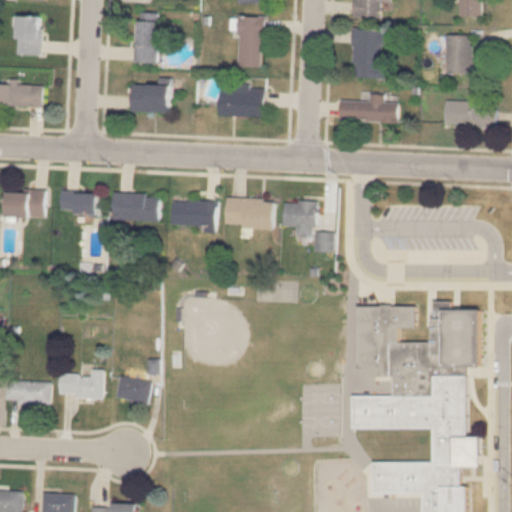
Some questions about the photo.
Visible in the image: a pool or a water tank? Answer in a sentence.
The image shows a pool.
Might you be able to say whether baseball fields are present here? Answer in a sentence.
Yes, there's a baseball field down there.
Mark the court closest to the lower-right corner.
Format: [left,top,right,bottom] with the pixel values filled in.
[299,384,342,448]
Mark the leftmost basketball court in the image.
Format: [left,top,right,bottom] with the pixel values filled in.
[257,281,298,303]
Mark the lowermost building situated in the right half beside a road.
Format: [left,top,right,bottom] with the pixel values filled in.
[352,300,482,512]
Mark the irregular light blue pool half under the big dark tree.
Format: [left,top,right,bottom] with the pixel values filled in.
[166,44,194,66]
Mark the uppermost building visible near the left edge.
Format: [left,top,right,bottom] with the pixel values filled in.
[13,16,44,56]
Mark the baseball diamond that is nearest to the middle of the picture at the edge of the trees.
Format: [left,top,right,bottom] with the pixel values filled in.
[182,296,250,366]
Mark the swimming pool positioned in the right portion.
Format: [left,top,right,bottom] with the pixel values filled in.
[428,40,442,54]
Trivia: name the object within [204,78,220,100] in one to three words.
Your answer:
swimming pool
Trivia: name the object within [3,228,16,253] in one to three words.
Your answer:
swimming pool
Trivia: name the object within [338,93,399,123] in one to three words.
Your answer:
house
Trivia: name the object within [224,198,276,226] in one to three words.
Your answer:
house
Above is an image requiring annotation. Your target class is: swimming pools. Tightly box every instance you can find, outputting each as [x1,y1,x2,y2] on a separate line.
[204,78,220,100]
[90,233,102,257]
[3,228,16,253]
[428,40,442,54]
[166,44,194,66]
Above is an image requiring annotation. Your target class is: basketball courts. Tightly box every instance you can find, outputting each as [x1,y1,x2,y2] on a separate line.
[257,281,298,303]
[299,384,342,448]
